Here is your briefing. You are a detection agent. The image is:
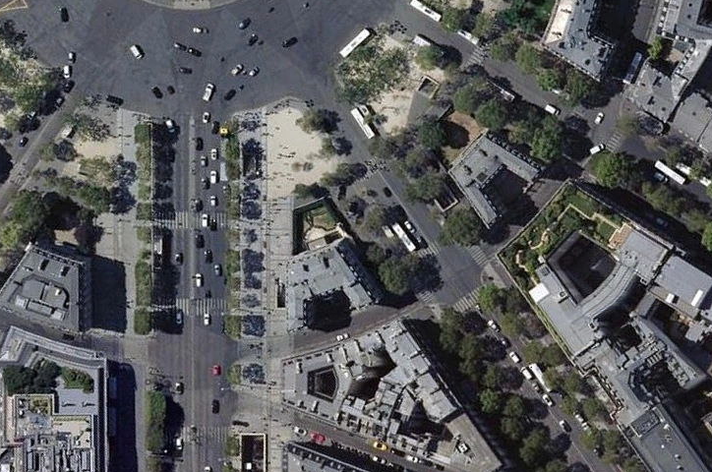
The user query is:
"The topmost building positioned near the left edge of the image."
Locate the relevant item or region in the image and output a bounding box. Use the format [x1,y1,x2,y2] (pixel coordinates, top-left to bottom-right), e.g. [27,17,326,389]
[0,243,96,333]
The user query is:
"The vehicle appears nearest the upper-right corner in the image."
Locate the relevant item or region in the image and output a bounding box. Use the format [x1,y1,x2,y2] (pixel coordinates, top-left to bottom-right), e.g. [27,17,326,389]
[625,51,643,84]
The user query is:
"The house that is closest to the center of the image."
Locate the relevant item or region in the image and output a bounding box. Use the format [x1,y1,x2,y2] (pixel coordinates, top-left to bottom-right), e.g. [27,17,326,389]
[287,234,384,332]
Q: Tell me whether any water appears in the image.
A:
No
